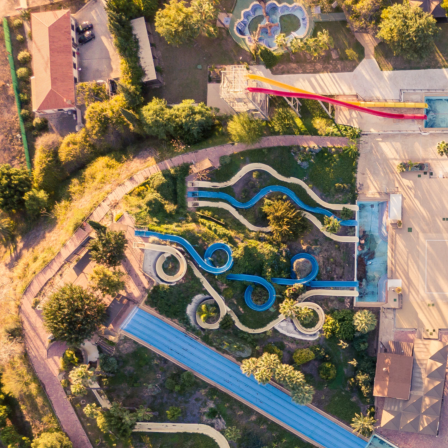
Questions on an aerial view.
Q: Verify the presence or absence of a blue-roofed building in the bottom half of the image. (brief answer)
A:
No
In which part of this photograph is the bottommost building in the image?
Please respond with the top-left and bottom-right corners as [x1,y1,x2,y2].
[373,353,413,399]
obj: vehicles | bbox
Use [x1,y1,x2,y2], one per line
[79,21,94,33]
[80,31,95,45]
